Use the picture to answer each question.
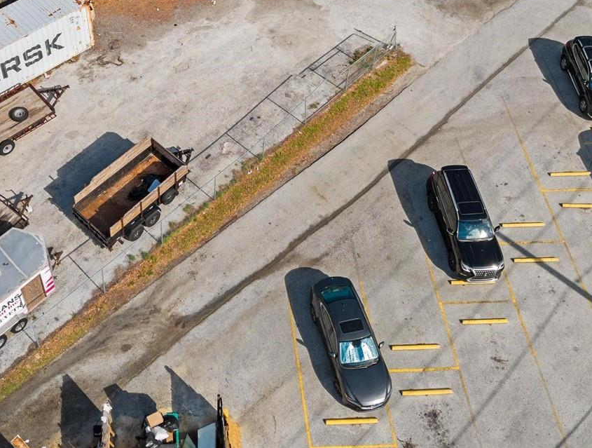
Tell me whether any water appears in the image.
No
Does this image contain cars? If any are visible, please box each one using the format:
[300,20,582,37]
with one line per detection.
[558,33,592,120]
[427,164,507,286]
[309,274,395,415]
